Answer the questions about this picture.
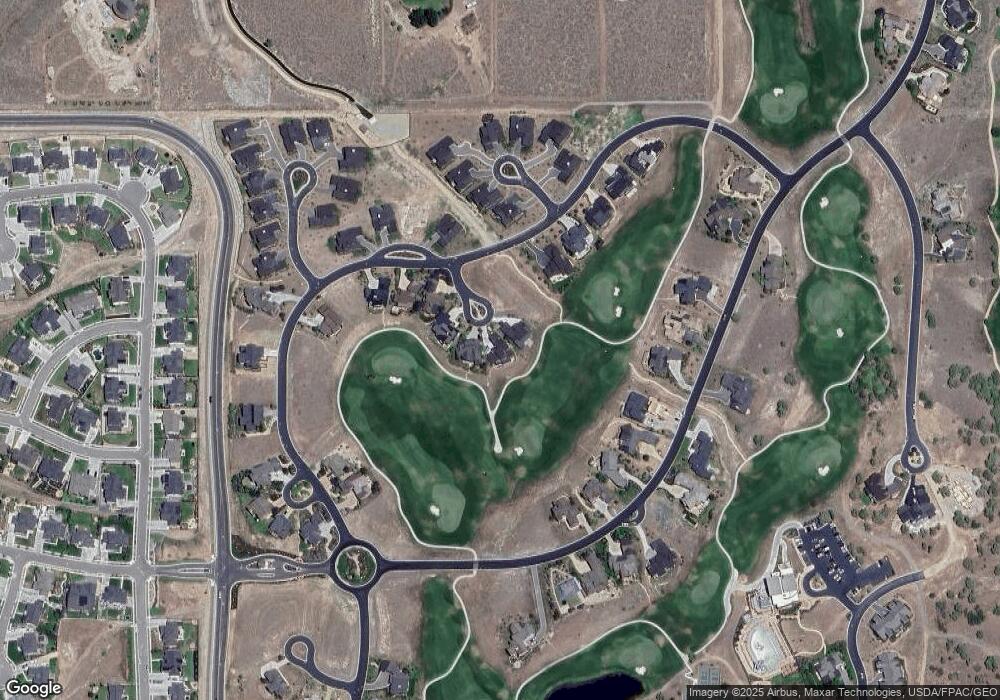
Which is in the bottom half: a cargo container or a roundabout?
roundabout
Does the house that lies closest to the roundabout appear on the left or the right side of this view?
left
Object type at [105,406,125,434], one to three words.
house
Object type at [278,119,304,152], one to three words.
house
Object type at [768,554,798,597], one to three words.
building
